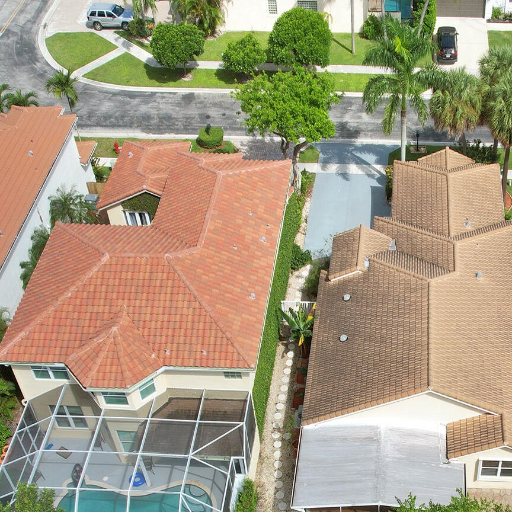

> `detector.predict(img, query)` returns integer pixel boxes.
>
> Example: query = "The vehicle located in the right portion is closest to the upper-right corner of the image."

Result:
[436,23,460,53]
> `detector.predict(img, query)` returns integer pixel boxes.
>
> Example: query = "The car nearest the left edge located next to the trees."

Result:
[82,1,137,31]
